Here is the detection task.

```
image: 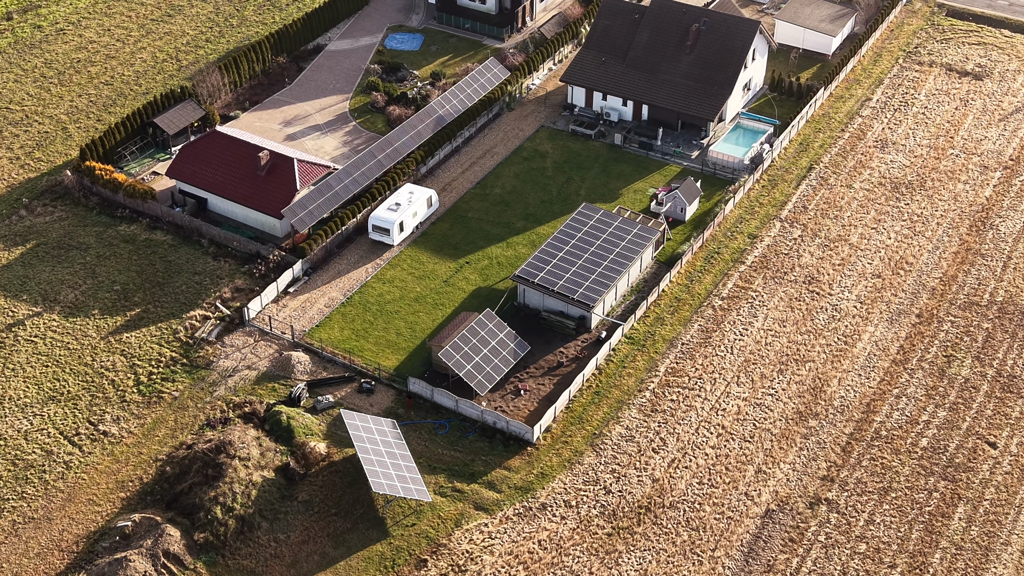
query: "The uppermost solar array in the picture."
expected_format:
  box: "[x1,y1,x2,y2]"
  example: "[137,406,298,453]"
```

[282,55,508,235]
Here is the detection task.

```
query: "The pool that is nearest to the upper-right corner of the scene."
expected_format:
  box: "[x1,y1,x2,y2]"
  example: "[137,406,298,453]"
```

[707,113,774,170]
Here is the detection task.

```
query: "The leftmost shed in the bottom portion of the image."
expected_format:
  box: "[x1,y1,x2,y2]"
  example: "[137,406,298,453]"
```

[425,318,474,377]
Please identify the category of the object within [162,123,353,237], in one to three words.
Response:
building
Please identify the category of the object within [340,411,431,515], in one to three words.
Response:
solar array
